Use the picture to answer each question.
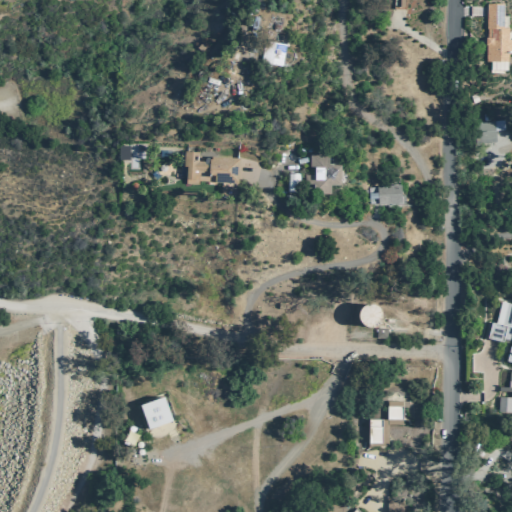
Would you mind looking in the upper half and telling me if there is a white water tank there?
No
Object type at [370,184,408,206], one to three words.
house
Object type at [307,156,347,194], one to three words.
house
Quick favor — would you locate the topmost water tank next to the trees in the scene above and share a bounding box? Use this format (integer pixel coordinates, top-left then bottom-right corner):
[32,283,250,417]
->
[360,304,384,328]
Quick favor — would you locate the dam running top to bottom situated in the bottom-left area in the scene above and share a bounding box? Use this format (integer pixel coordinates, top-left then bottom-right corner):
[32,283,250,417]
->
[0,313,98,512]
